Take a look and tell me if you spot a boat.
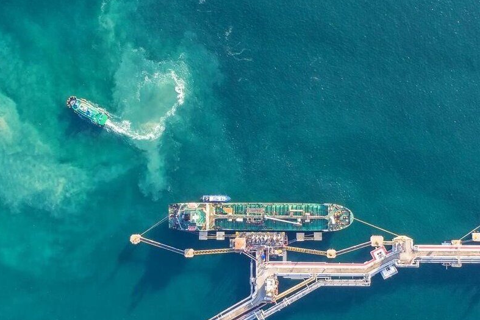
Yes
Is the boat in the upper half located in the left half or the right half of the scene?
left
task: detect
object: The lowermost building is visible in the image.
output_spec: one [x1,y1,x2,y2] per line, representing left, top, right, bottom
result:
[262,274,279,304]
